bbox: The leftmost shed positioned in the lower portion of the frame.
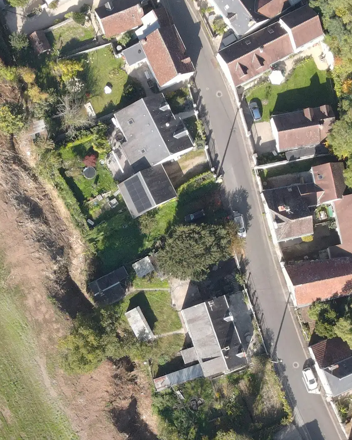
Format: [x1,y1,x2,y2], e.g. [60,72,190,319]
[89,266,133,305]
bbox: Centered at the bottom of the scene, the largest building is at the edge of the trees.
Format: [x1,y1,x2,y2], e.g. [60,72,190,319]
[178,296,249,378]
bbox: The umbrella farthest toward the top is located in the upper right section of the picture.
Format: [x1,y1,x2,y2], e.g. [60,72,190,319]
[270,65,290,83]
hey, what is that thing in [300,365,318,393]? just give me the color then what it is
white car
